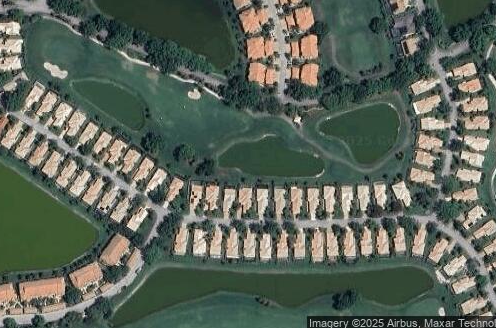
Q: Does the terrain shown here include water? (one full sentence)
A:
Yes, the picture does contain water.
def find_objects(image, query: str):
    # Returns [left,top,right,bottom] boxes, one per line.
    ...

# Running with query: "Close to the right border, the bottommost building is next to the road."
[472,308,496,328]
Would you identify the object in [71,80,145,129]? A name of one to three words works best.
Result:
pond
